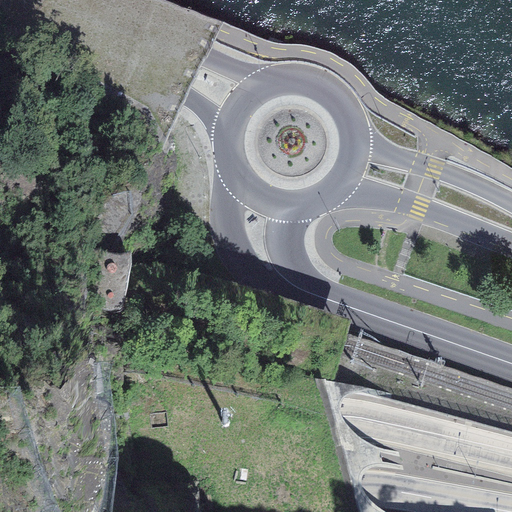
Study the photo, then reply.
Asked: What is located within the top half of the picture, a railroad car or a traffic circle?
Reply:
traffic circle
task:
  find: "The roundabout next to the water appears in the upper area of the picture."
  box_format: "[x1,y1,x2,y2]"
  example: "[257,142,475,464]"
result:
[212,63,372,222]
